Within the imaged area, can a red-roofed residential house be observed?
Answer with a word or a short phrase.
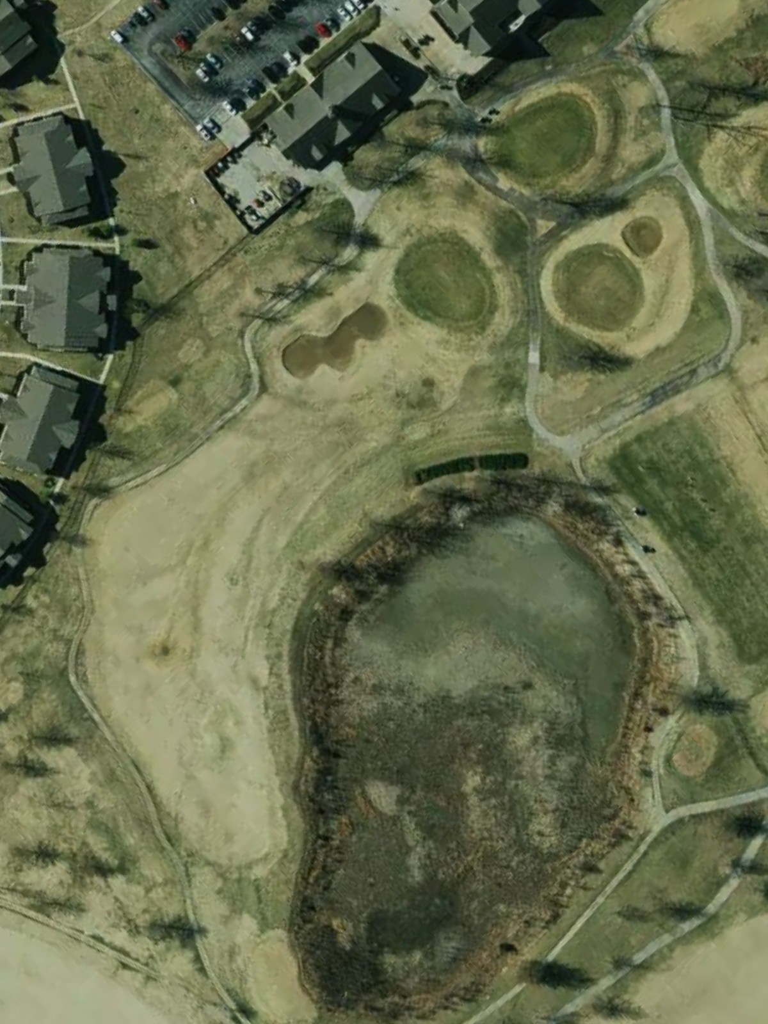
No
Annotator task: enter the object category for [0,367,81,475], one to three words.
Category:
house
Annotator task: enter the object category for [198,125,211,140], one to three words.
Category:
vehicle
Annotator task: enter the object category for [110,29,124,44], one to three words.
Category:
car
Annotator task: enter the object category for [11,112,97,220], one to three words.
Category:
house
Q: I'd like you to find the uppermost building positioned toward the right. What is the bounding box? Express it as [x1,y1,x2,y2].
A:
[430,0,550,59]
